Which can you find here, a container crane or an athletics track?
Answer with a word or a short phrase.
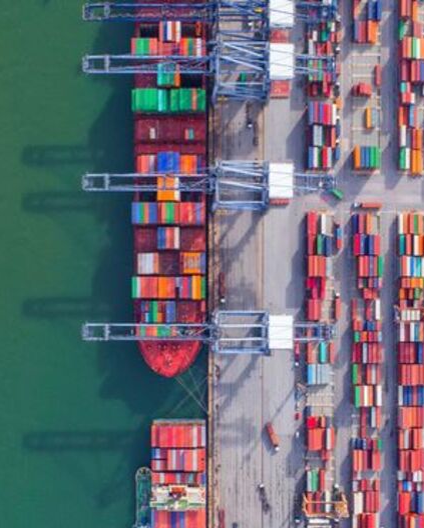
container crane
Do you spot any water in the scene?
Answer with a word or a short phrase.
Yes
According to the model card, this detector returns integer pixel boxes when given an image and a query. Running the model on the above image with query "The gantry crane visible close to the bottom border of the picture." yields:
[301,489,348,516]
